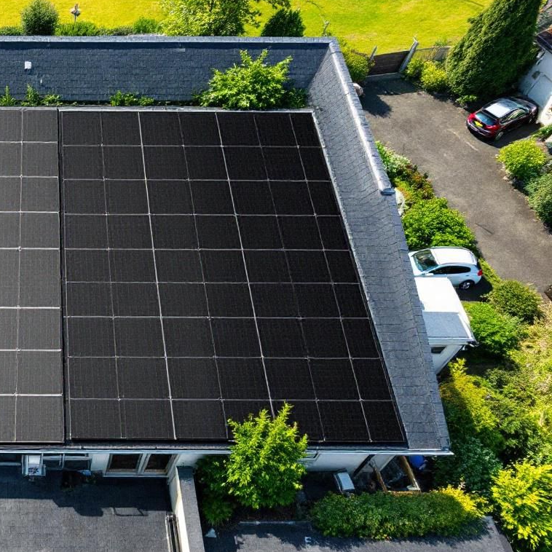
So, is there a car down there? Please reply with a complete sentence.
Yes, looking at the shot, I can spot a car.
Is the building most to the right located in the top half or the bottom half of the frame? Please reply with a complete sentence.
The building most to the right sits in the top half of the picture.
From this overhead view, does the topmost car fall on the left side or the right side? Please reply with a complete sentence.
The topmost car is on the right side of the image.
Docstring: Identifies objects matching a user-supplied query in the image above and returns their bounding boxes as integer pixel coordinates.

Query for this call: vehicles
[409,252,490,287]
[476,97,542,133]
